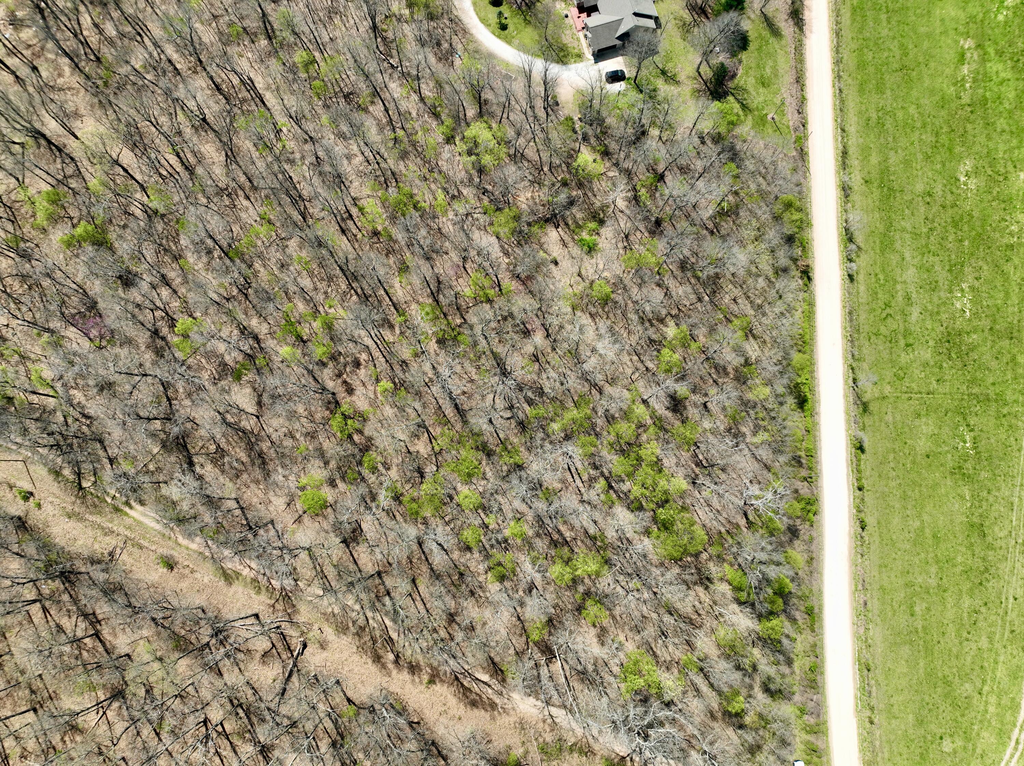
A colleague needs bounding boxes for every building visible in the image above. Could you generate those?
[570,0,658,55]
